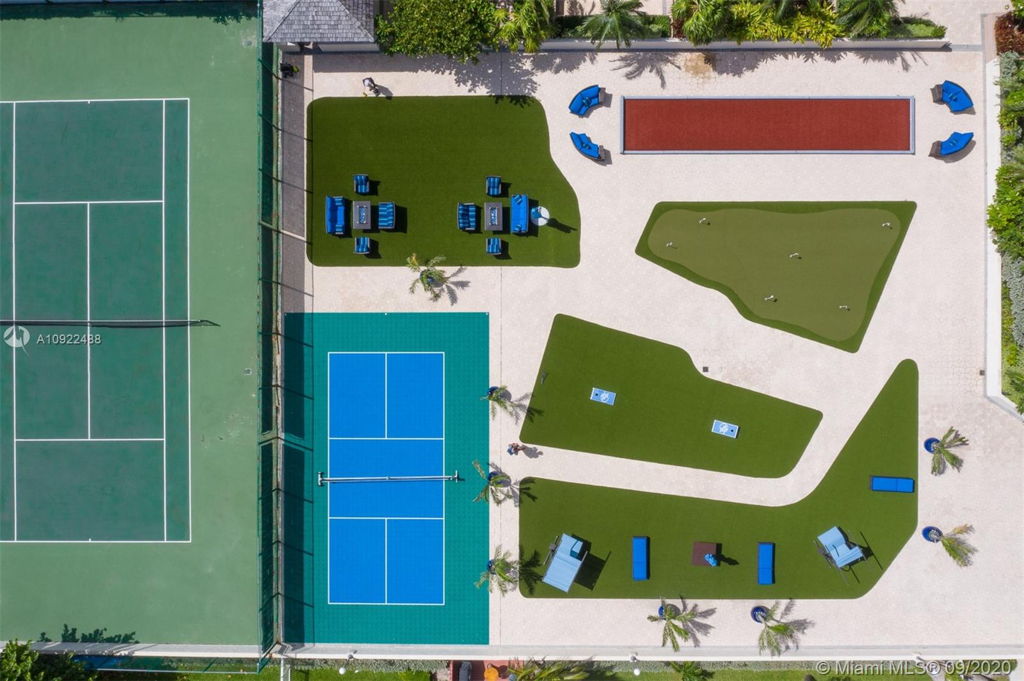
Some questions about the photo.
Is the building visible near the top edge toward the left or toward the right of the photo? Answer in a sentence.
The building visible near the top edge is on the left side of the image.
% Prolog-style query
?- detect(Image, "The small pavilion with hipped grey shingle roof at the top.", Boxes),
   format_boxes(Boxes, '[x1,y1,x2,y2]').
[263,0,385,51]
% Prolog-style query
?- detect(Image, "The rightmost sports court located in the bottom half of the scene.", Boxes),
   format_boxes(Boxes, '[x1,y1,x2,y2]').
[284,312,490,645]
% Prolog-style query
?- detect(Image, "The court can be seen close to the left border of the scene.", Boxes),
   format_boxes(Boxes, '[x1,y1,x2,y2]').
[0,1,277,643]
